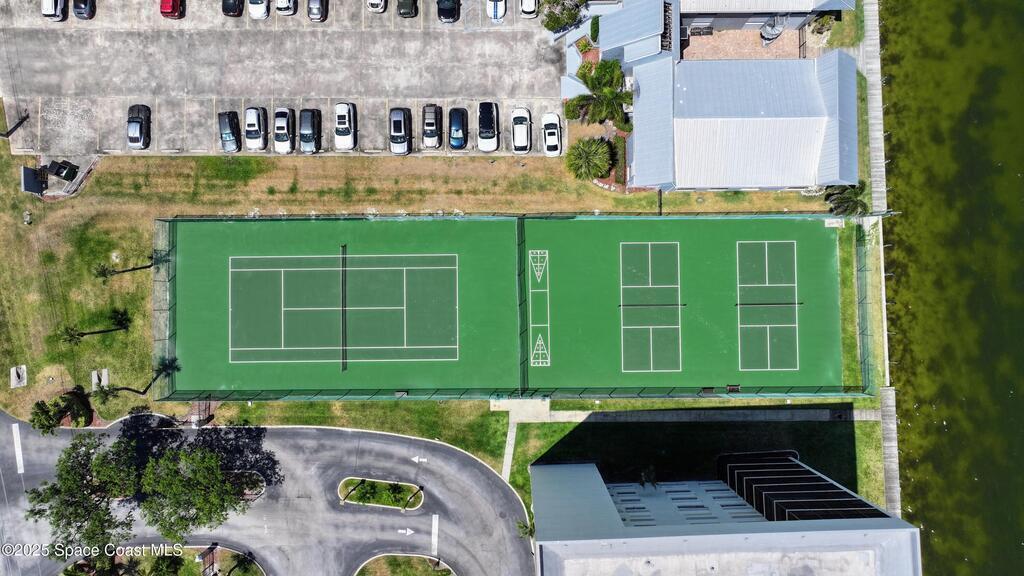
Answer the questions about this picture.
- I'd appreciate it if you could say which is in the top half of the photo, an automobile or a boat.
automobile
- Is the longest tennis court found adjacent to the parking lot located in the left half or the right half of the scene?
left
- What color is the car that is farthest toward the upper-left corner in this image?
white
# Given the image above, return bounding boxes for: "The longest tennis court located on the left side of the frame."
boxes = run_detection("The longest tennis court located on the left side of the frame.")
[168,218,521,397]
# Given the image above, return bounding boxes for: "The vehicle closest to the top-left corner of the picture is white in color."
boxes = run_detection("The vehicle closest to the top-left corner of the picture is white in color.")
[39,0,68,21]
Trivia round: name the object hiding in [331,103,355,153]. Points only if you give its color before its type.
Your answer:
white car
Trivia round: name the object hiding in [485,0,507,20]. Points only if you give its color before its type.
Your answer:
white car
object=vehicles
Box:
[124,106,149,151]
[159,0,184,17]
[366,0,385,14]
[475,103,499,154]
[510,109,532,156]
[295,110,319,157]
[39,0,68,21]
[436,0,459,24]
[446,108,468,151]
[387,108,410,158]
[214,109,239,154]
[520,0,538,18]
[397,0,416,17]
[245,0,268,18]
[331,103,355,153]
[221,0,243,16]
[307,0,327,20]
[275,0,296,16]
[70,0,96,19]
[270,109,293,156]
[419,105,441,153]
[485,0,507,20]
[241,107,266,153]
[540,113,561,159]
